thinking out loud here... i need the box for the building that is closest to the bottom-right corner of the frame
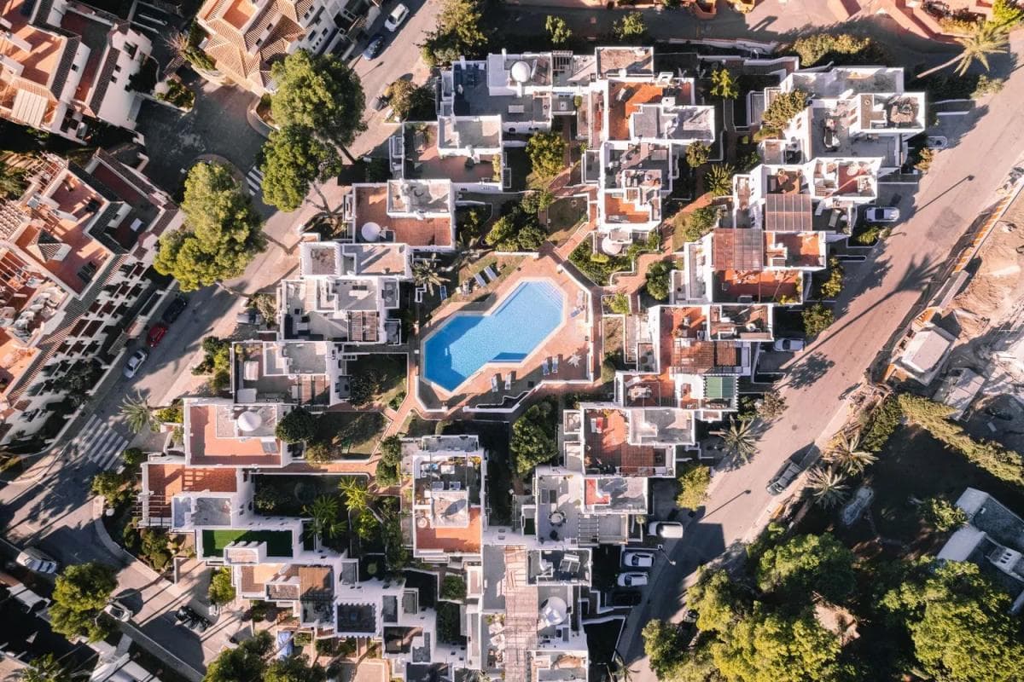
[915,479,1024,620]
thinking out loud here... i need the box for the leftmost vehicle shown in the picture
[19,546,56,573]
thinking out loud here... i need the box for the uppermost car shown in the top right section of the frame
[920,134,949,150]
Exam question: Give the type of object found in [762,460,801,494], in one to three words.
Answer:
car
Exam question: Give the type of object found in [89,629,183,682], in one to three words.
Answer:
house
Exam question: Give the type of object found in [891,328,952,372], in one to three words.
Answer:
building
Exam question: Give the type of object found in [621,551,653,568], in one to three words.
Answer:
car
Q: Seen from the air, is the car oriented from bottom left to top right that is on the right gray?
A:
Yes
